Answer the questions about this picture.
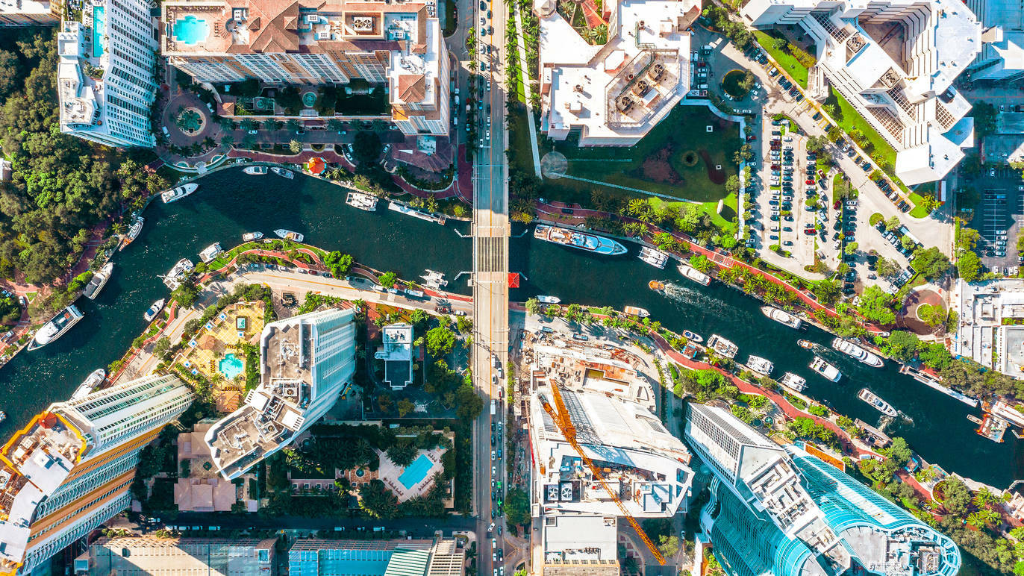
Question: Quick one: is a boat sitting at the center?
Yes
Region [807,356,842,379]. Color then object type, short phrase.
white boat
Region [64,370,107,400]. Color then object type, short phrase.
white boat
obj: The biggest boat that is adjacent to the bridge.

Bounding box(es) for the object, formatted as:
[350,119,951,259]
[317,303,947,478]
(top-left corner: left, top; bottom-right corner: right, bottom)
[532,222,629,252]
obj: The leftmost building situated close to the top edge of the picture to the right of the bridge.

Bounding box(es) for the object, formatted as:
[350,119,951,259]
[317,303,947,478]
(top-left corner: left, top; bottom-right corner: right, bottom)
[531,0,702,143]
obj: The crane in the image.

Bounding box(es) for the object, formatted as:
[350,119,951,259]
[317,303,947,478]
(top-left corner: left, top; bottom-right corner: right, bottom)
[544,371,668,569]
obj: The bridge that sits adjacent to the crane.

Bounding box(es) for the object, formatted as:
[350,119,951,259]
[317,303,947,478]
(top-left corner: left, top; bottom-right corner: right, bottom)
[467,0,511,576]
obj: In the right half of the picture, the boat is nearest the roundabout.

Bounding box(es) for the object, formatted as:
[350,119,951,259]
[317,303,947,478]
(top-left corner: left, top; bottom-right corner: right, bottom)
[831,336,884,364]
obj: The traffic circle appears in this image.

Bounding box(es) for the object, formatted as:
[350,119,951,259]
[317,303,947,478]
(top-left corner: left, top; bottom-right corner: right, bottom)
[901,288,946,333]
